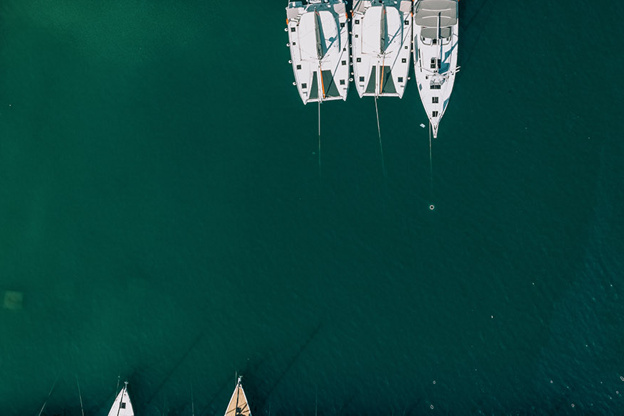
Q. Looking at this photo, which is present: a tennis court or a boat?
boat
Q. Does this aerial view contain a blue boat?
No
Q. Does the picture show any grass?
No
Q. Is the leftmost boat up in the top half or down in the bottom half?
bottom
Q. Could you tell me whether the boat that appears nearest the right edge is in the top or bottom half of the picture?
top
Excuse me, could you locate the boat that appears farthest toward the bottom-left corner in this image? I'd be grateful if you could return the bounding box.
[111,382,134,416]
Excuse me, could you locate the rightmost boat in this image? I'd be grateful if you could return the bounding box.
[413,0,459,180]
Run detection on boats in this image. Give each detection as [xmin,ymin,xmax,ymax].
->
[227,374,252,416]
[348,0,413,148]
[111,382,134,416]
[413,0,459,180]
[282,0,351,115]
